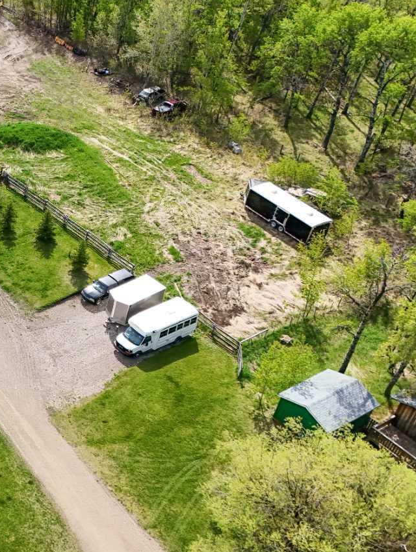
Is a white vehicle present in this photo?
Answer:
Yes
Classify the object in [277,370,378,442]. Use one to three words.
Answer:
shed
